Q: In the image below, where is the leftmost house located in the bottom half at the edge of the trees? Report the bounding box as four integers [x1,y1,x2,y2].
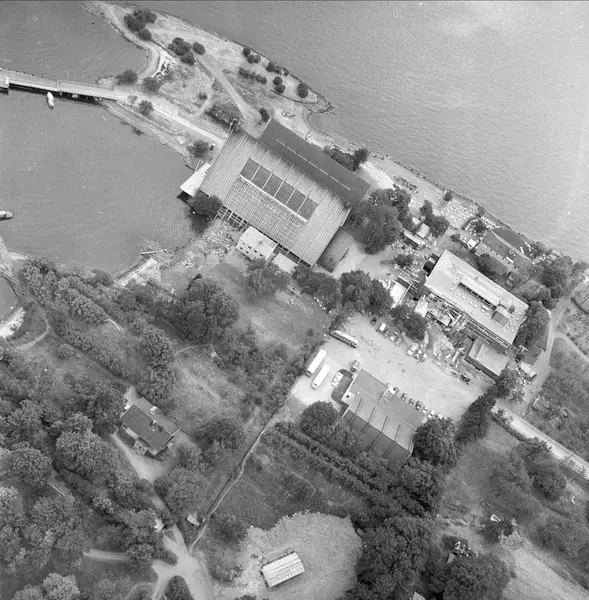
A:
[121,397,179,456]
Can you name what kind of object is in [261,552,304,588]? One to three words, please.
barn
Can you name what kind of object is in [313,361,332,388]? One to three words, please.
vehicle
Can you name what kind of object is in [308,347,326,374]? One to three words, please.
vehicle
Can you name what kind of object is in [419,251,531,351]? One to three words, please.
building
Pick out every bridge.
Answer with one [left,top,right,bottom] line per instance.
[0,68,106,102]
